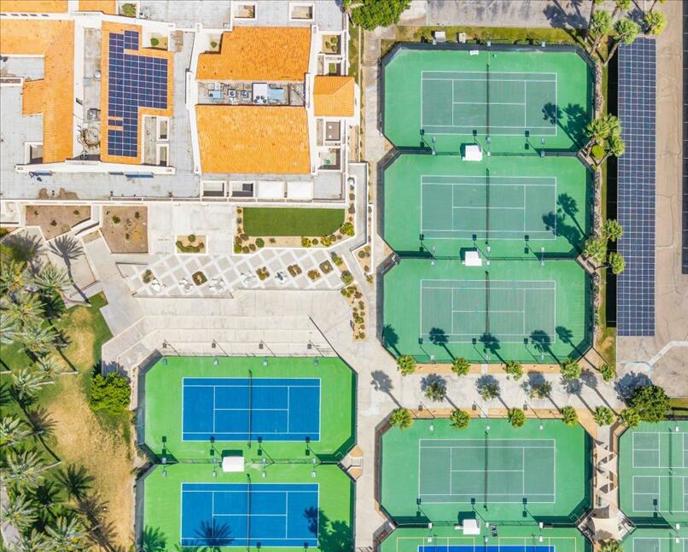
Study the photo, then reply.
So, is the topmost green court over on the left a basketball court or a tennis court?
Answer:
tennis court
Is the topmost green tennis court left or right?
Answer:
right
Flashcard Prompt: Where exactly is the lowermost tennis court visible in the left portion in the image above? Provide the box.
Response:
[143,463,349,552]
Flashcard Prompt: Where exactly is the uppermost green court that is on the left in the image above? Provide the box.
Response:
[145,355,350,463]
